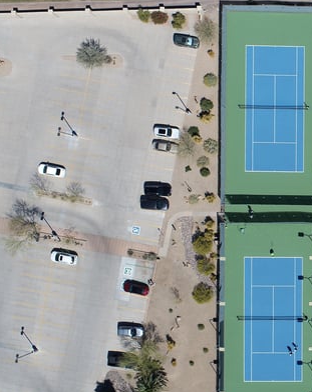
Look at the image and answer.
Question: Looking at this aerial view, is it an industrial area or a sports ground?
sports ground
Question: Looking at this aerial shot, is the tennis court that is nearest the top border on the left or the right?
right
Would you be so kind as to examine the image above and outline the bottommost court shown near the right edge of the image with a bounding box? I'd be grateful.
[224,223,312,392]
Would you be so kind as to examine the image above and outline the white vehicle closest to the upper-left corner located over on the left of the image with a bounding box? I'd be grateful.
[39,163,66,176]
